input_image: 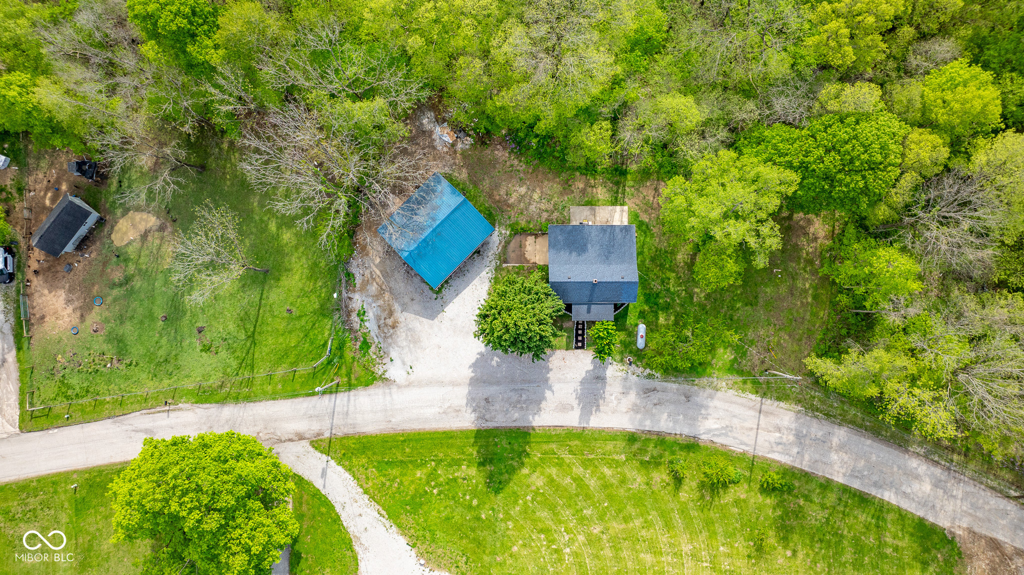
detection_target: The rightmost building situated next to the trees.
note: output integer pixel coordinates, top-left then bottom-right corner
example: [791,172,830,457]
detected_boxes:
[548,224,641,321]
